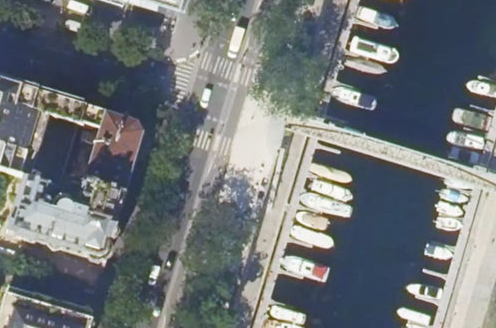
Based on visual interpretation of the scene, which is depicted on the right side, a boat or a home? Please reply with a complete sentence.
You can see a boat on the right side.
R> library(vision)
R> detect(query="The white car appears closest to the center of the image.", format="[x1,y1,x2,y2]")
[199,86,213,109]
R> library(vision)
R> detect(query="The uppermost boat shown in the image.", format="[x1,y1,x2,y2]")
[354,7,399,28]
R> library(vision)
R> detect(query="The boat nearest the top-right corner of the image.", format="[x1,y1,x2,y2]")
[466,80,496,100]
